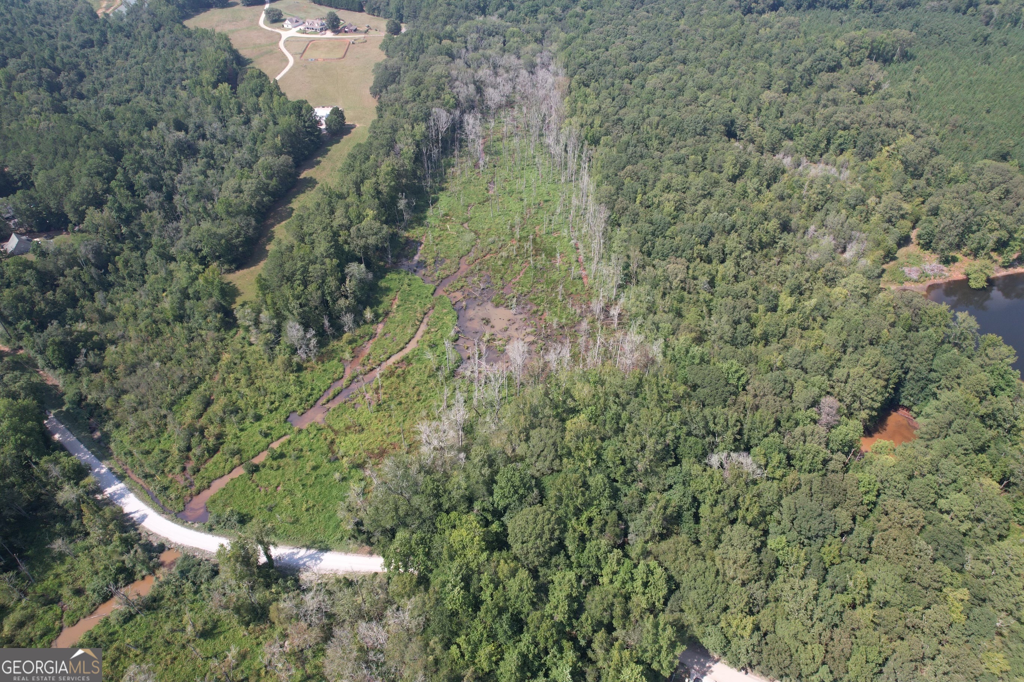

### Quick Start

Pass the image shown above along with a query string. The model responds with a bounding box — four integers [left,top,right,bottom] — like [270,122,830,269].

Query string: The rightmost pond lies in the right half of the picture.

[924,272,1024,398]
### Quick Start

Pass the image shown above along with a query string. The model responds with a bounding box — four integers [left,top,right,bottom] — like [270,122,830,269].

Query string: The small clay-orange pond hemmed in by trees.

[859,410,914,462]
